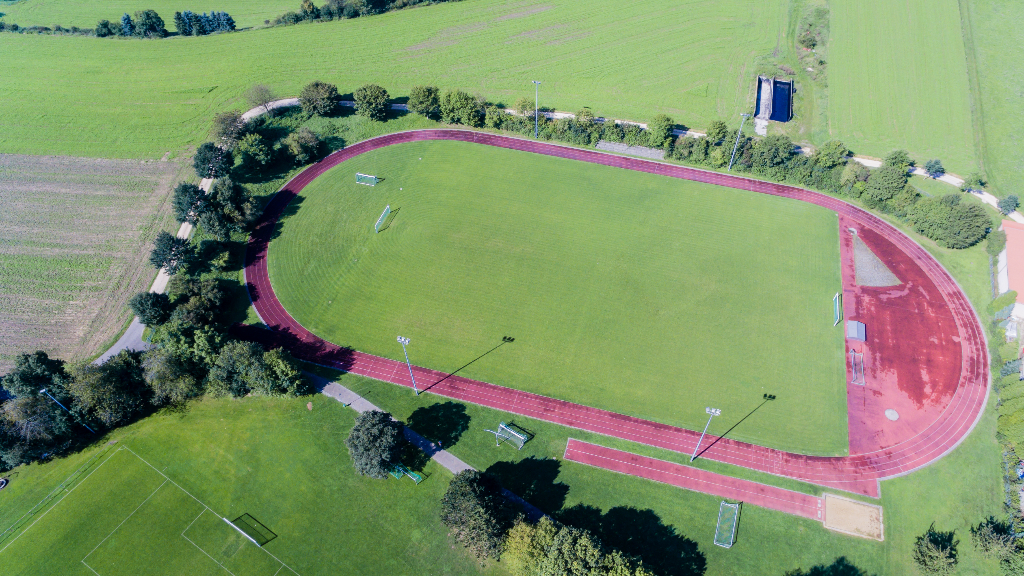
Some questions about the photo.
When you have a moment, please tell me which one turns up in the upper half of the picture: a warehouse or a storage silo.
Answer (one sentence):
There is a storage silo in the upper half of the picture.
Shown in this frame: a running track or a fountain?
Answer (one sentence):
It is a running track that can be seen here.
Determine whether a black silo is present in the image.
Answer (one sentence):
No, there appears to be no black silo in this shot.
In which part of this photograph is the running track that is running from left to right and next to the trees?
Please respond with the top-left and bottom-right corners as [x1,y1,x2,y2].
[246,130,989,481]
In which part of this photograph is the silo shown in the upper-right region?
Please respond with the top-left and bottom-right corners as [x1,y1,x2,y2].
[739,74,792,122]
